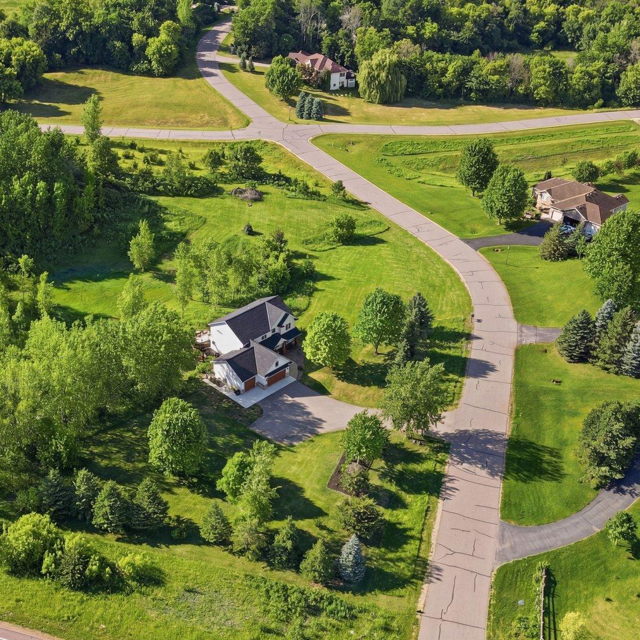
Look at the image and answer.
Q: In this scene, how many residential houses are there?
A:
3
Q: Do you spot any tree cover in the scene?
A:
Yes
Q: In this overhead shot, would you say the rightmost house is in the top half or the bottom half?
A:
top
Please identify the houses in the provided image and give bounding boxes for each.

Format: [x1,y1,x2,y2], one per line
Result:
[283,50,357,90]
[533,177,633,236]
[209,296,303,393]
